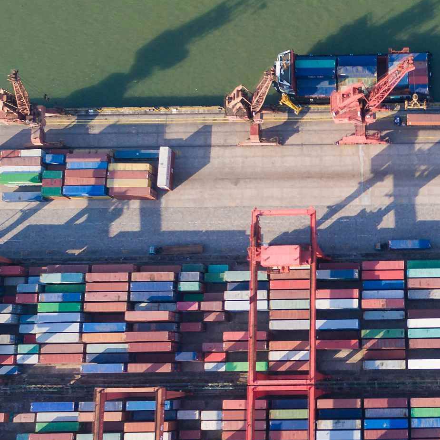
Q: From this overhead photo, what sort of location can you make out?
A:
port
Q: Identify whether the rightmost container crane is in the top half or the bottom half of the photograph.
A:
top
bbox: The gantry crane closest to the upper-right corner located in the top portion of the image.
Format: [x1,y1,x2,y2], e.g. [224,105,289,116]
[327,56,439,145]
